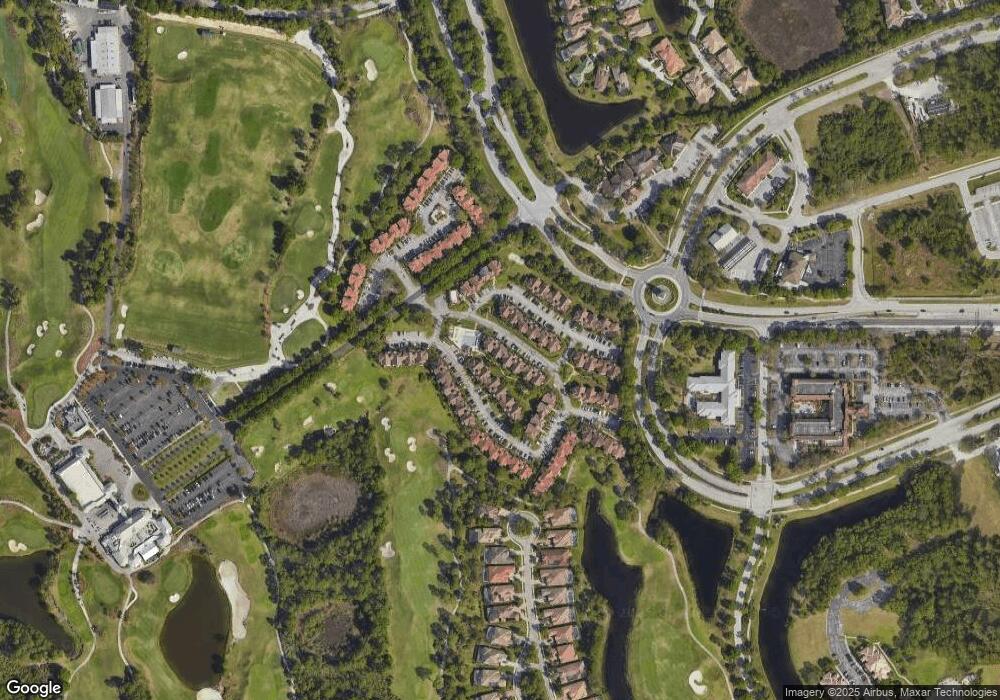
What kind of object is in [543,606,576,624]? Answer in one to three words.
house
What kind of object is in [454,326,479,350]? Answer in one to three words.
swimming pool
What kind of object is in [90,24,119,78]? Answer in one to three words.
shed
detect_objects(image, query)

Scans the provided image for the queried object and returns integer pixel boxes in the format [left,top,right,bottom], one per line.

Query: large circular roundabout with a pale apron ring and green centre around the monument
[633,266,690,323]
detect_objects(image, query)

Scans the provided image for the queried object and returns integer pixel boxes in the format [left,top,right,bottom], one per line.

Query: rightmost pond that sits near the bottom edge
[158,555,231,692]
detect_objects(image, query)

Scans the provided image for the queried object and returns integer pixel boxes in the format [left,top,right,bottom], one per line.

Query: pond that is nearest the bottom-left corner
[0,548,78,659]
